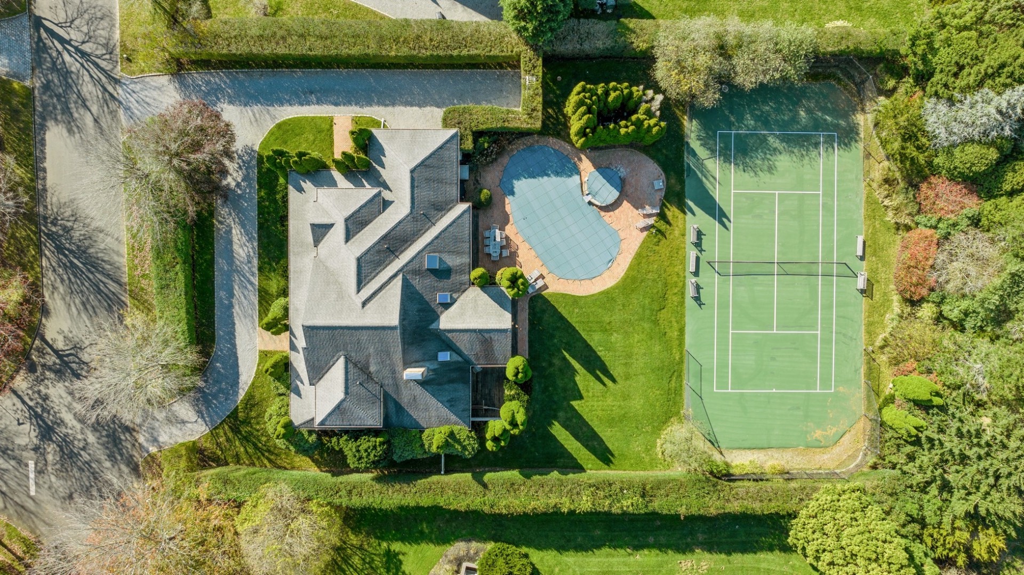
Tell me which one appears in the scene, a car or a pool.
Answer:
pool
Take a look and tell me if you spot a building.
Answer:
Yes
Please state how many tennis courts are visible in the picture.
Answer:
1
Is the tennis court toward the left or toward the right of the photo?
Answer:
right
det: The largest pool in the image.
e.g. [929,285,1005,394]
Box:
[495,139,626,286]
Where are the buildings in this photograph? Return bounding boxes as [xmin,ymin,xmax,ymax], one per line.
[288,128,512,429]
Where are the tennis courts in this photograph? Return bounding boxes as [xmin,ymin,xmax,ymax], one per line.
[685,81,863,448]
